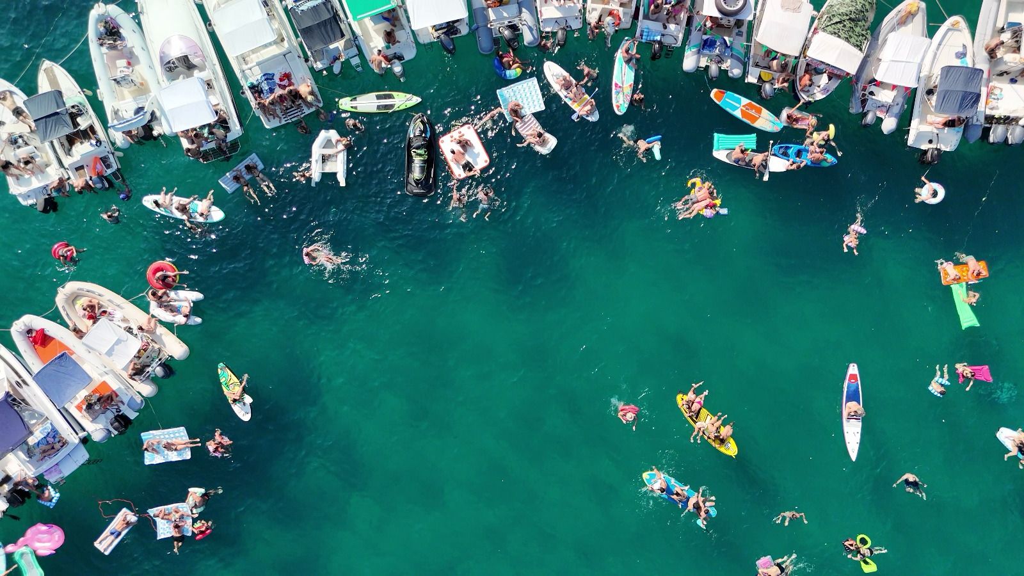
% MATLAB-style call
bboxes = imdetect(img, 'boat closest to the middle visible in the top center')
[405,114,436,196]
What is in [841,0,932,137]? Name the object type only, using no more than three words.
boat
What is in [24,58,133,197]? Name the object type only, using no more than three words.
boat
